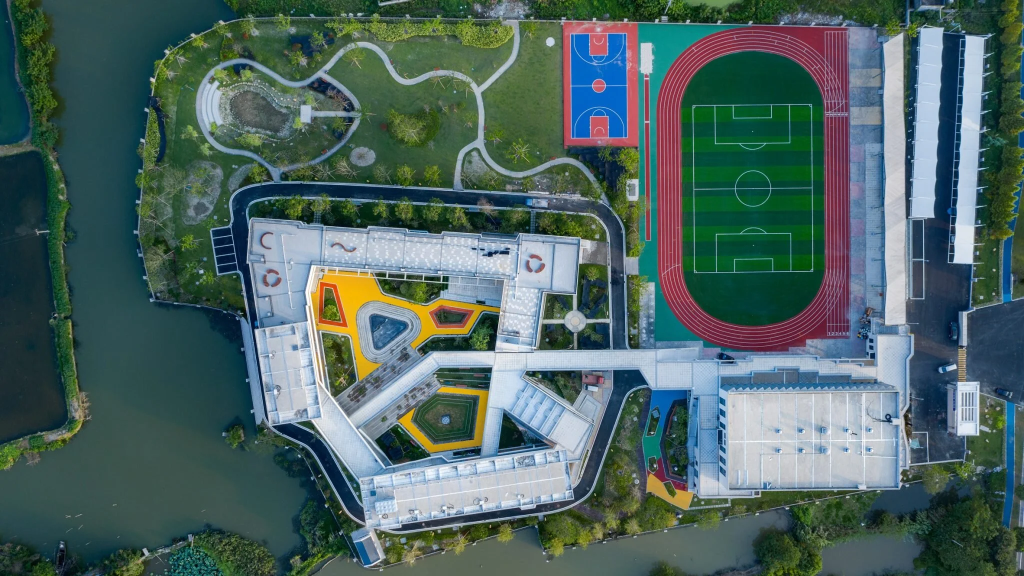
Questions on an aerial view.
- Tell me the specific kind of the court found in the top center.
basketball court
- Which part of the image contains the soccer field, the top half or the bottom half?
top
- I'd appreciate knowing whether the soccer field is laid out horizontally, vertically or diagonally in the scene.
vertically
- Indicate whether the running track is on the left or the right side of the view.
right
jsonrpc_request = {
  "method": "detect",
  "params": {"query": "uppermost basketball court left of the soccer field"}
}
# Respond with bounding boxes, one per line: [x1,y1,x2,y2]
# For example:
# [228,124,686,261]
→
[564,23,639,146]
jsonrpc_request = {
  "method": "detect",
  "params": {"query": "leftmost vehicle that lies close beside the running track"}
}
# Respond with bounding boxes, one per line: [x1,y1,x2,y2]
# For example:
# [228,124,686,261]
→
[718,351,736,363]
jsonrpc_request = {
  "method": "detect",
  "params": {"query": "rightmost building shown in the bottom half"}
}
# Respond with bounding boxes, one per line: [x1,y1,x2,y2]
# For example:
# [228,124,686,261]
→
[947,382,980,435]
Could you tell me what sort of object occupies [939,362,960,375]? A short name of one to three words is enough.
vehicle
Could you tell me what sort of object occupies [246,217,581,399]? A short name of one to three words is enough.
building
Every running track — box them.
[656,26,850,352]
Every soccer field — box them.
[682,52,824,326]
